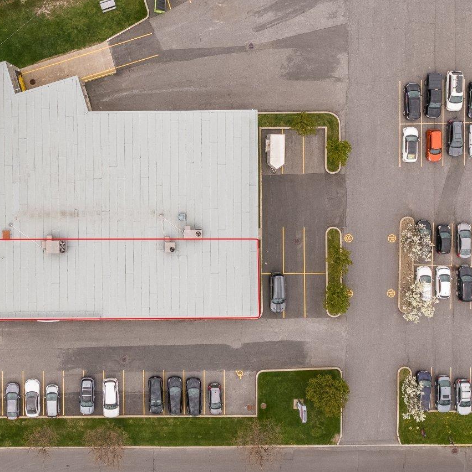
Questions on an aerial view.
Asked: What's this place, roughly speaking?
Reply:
parking lot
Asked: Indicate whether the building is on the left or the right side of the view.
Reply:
left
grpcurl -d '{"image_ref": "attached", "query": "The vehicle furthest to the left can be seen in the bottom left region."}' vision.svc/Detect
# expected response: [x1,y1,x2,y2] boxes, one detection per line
[4,383,21,420]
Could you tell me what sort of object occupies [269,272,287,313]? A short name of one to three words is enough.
car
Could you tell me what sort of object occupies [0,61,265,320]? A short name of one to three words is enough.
building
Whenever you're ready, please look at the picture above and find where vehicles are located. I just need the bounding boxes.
[453,378,472,415]
[4,383,21,420]
[445,120,465,156]
[415,219,434,251]
[147,375,165,414]
[454,264,472,303]
[445,72,465,111]
[23,377,42,418]
[208,382,224,415]
[454,222,472,258]
[434,266,453,299]
[186,376,202,417]
[466,82,472,119]
[401,127,421,162]
[416,266,434,301]
[424,130,444,162]
[45,384,60,418]
[269,272,287,313]
[415,370,434,413]
[167,375,184,416]
[423,73,444,117]
[436,224,453,254]
[78,376,97,415]
[101,378,120,418]
[435,374,452,413]
[403,83,423,121]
